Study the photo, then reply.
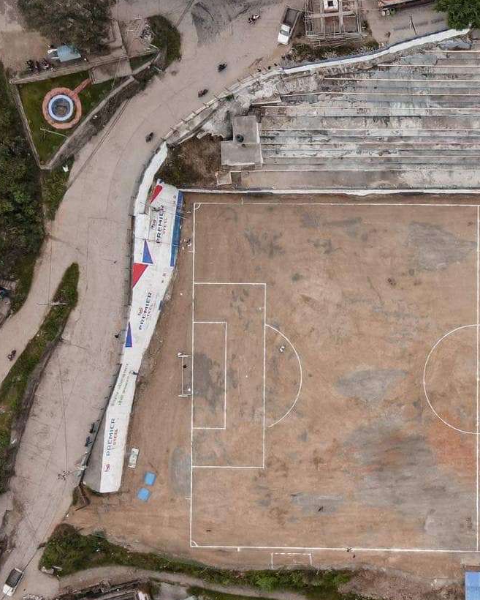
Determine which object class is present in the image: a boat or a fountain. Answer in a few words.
fountain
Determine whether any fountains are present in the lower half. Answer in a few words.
No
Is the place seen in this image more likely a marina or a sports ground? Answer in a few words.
sports ground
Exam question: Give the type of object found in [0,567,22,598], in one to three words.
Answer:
truck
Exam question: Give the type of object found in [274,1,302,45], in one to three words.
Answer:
truck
